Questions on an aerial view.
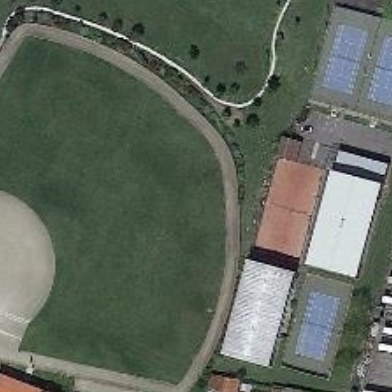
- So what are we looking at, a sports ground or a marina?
sports ground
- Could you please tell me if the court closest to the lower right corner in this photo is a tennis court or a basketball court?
tennis court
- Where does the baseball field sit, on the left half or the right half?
left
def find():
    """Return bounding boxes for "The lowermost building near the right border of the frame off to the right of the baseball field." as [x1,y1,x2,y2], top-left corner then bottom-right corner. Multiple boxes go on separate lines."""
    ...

[304,169,381,278]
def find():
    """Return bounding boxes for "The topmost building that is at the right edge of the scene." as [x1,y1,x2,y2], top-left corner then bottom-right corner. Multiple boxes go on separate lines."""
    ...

[333,149,387,176]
